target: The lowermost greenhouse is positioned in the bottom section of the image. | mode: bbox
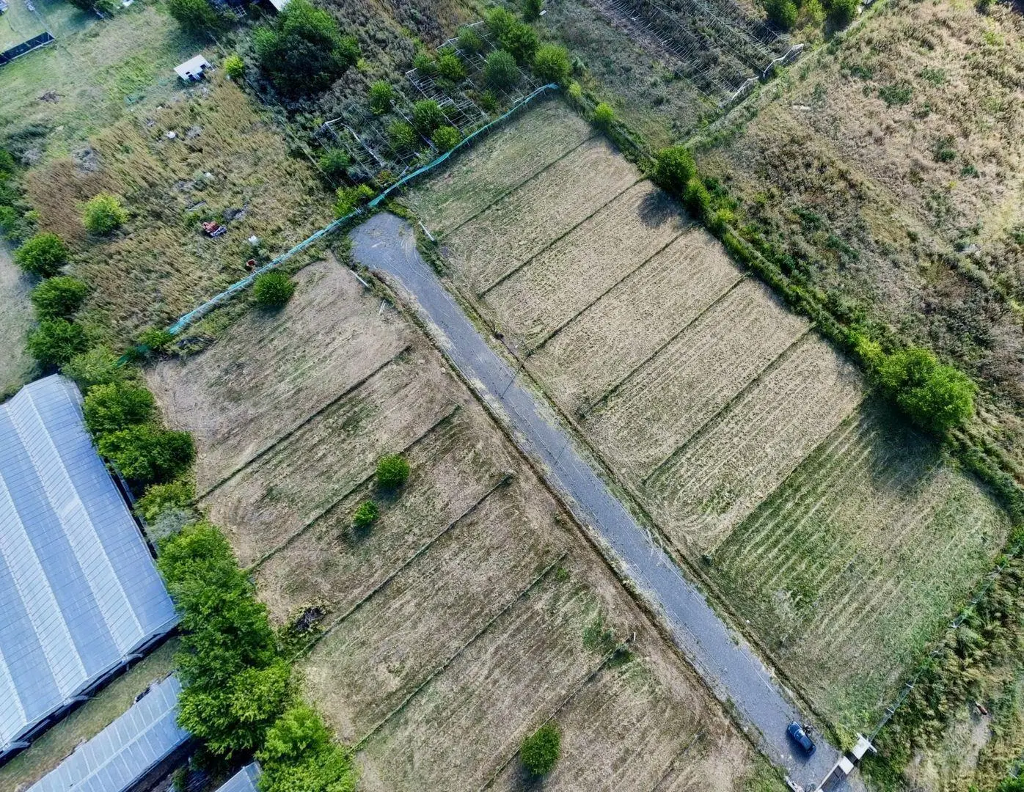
[214,762,267,792]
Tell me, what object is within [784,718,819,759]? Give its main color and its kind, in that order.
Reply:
blue car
